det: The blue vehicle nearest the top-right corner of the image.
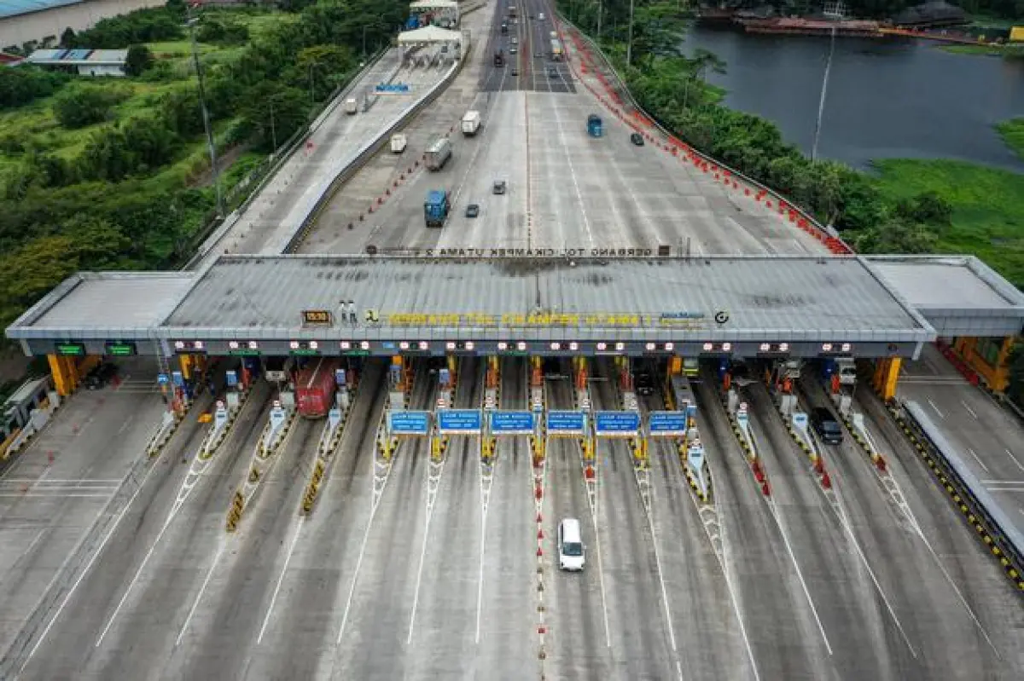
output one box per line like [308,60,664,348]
[586,113,601,135]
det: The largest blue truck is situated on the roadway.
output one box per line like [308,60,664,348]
[427,189,452,223]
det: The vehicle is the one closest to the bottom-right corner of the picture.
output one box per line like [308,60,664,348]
[808,403,842,441]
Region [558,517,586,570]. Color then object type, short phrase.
white car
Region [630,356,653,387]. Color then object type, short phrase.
black car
